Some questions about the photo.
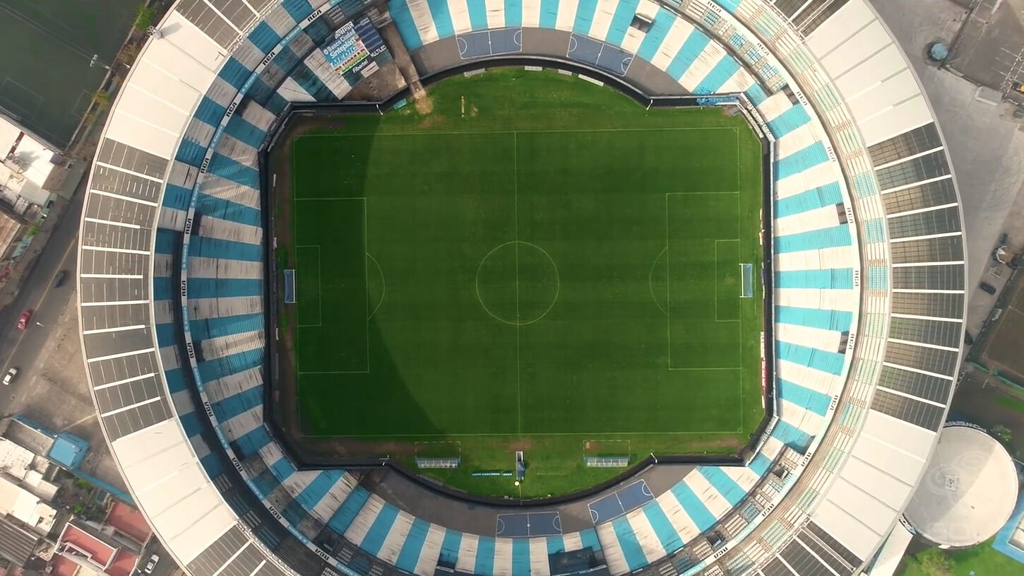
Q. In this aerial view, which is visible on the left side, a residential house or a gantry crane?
residential house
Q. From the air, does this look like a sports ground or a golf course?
sports ground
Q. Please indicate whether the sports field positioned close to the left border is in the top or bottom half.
top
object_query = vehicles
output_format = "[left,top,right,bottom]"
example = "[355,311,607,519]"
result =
[999,233,1012,245]
[52,269,67,287]
[16,310,32,330]
[992,307,1004,321]
[144,554,158,574]
[1,366,16,385]
[1003,84,1024,95]
[980,282,997,294]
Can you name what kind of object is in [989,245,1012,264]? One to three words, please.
gazebo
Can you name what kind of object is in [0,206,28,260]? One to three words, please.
shed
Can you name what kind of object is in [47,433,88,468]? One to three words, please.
building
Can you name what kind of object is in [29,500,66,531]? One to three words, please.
house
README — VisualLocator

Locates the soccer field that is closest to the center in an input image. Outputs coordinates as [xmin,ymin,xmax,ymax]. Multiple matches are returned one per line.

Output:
[273,67,764,499]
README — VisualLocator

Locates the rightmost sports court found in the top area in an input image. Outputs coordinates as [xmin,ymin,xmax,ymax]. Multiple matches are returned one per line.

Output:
[568,34,633,76]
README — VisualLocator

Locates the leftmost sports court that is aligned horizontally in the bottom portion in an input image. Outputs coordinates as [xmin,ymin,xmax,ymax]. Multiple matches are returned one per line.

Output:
[497,512,561,537]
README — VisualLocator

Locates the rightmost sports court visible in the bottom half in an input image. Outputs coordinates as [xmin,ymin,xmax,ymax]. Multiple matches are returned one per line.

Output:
[588,479,654,525]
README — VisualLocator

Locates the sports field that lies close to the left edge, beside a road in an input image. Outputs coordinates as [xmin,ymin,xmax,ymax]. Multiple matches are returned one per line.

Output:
[0,0,144,146]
